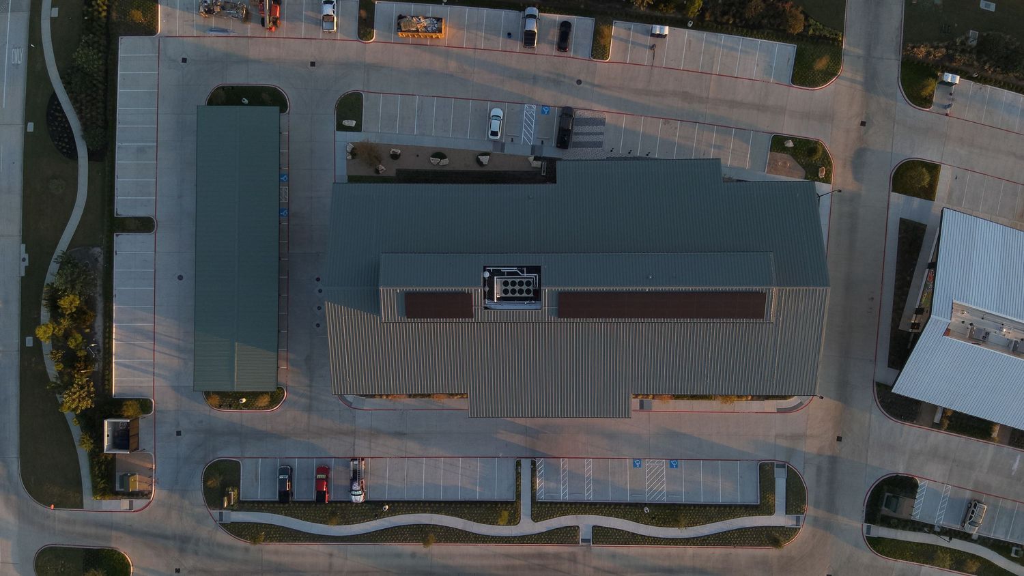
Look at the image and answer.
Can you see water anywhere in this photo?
No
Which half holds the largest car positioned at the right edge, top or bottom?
bottom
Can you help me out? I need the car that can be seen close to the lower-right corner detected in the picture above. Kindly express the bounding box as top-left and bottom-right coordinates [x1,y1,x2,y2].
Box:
[966,501,991,536]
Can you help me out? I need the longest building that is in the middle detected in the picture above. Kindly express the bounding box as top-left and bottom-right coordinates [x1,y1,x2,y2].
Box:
[323,158,832,419]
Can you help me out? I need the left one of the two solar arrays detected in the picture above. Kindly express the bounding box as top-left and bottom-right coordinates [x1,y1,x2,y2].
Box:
[405,291,473,319]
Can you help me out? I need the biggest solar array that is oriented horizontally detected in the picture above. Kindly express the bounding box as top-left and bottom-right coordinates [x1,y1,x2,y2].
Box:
[558,291,766,319]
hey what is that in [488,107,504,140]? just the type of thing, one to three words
car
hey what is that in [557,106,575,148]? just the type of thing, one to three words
vehicle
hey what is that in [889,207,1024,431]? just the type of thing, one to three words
building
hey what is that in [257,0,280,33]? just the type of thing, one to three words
work vehicle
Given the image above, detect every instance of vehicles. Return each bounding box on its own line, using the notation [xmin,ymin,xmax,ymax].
[488,107,504,140]
[273,467,291,506]
[522,4,539,47]
[557,18,573,51]
[966,501,991,536]
[346,460,365,504]
[257,0,280,33]
[319,0,337,30]
[312,467,329,506]
[557,106,575,148]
